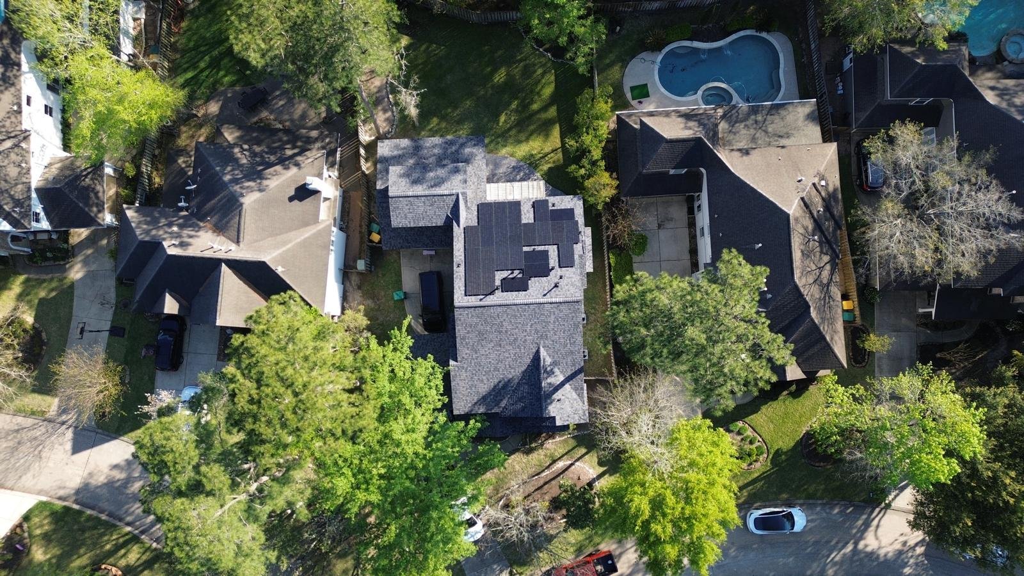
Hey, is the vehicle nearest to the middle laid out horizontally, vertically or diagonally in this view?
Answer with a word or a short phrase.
vertically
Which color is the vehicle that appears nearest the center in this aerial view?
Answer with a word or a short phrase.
black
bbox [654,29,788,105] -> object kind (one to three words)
swimming pool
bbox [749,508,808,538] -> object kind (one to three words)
car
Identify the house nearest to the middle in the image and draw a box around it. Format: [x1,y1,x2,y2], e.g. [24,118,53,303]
[376,136,593,440]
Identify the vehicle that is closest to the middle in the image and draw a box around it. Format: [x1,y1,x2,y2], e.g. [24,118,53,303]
[418,270,448,334]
